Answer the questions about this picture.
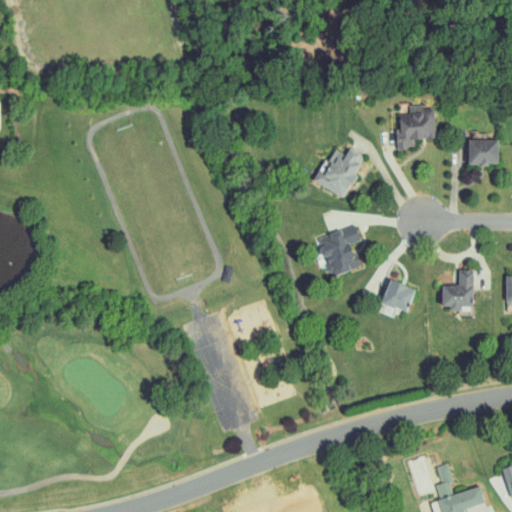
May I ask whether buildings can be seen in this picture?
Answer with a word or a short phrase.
Yes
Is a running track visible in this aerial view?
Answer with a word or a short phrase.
Yes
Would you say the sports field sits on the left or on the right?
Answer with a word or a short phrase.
left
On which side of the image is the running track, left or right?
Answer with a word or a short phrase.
left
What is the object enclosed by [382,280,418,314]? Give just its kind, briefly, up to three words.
house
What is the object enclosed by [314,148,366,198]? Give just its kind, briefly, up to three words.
house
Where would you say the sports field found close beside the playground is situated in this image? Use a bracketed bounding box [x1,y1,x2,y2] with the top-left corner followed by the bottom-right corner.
[91,110,217,296]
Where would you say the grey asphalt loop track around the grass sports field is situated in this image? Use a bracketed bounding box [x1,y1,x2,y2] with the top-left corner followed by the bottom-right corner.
[86,106,222,317]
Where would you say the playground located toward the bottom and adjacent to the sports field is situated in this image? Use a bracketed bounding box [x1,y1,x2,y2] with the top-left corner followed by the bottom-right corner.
[228,300,297,406]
